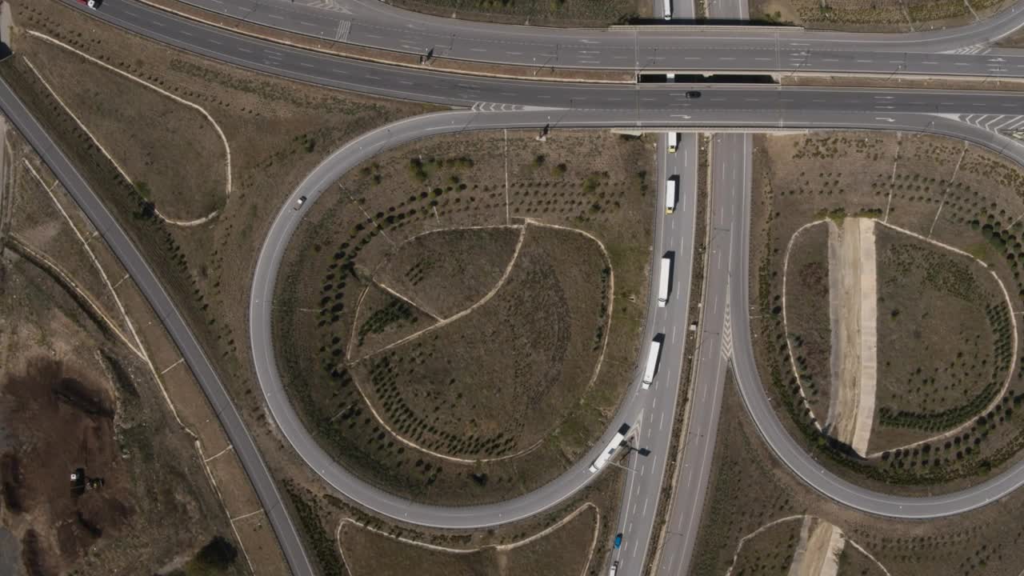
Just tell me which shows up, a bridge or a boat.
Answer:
bridge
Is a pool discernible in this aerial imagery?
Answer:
No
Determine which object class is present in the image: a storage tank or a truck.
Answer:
truck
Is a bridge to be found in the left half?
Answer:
No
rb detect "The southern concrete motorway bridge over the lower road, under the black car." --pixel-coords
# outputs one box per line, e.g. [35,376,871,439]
[610,83,809,135]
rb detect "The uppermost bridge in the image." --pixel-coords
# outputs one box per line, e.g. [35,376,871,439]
[608,26,806,79]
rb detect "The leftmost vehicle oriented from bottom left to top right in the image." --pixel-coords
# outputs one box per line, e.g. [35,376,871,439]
[293,195,306,211]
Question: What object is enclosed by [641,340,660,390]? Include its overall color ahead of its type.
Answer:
white vehicle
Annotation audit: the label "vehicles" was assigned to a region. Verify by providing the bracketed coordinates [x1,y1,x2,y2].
[686,92,701,98]
[667,74,676,83]
[641,340,660,390]
[662,0,672,21]
[658,258,669,307]
[609,562,617,576]
[667,132,676,154]
[665,180,675,221]
[614,535,622,549]
[70,473,81,495]
[589,431,623,473]
[293,195,306,211]
[68,0,99,12]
